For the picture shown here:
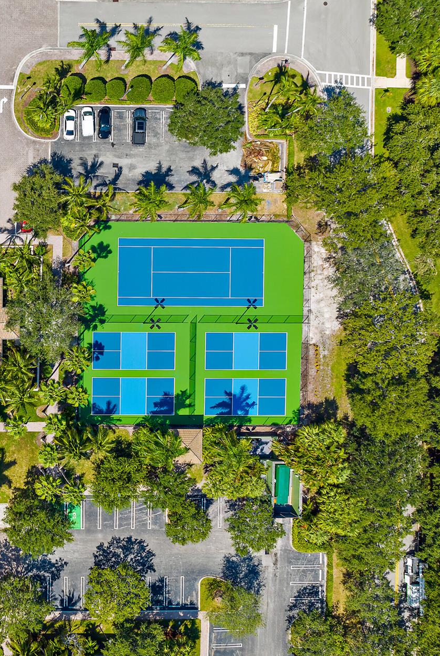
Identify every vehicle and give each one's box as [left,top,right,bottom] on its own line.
[131,109,146,145]
[399,545,425,616]
[97,109,112,138]
[63,110,77,139]
[80,107,95,137]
